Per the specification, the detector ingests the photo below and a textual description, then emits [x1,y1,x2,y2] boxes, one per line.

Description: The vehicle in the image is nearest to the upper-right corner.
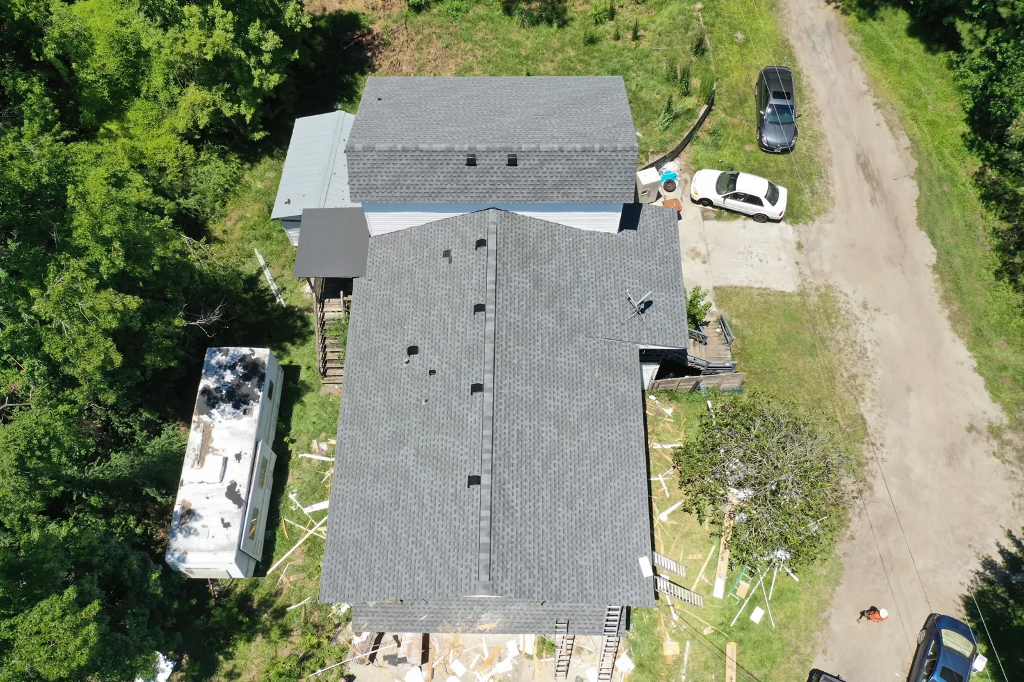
[753,67,803,150]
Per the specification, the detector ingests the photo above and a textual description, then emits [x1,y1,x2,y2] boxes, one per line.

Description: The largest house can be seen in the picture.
[294,76,689,635]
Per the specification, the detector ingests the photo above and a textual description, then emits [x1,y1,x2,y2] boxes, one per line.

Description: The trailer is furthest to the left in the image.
[170,349,284,613]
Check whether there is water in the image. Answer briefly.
No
